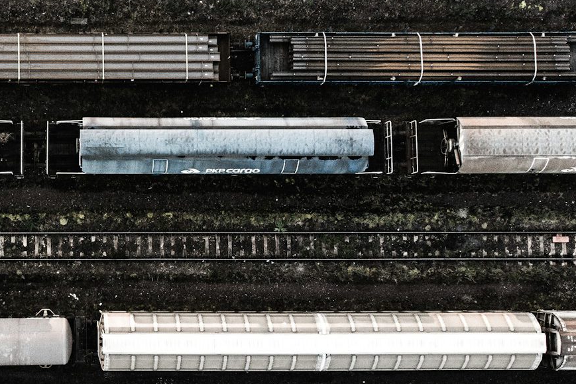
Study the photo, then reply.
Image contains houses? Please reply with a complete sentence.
No, the picture doesn't show any house.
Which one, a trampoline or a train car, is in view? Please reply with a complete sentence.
It is a train car that can be seen here.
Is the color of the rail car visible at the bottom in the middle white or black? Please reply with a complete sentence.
The rail car visible at the bottom in the middle is white.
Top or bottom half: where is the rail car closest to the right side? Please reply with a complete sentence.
The rail car closest to the right side sits in the bottom half of the picture.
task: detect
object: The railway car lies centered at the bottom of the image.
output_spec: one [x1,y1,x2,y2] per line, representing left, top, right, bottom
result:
[83,307,548,374]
